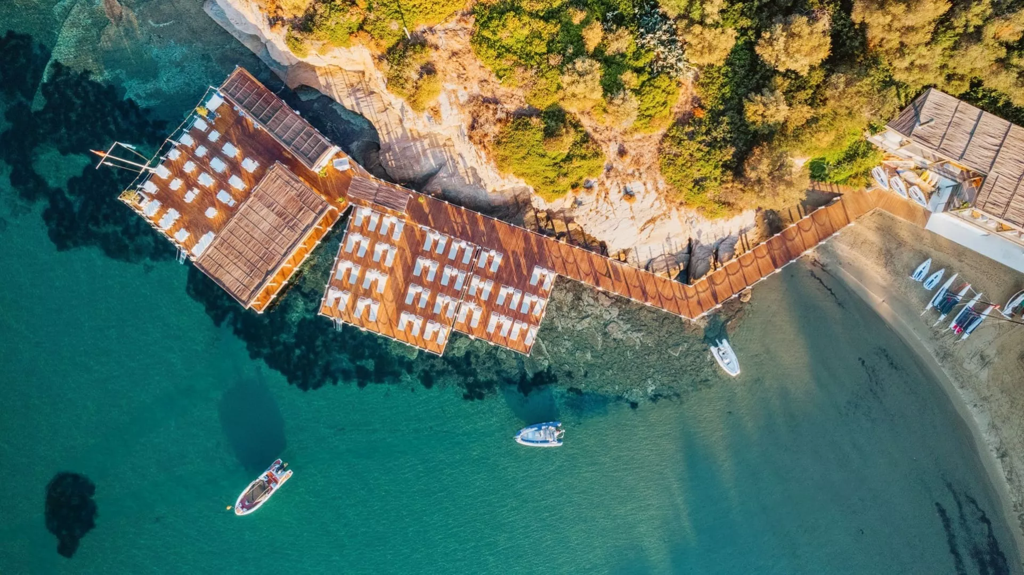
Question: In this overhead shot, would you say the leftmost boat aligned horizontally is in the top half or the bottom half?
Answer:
bottom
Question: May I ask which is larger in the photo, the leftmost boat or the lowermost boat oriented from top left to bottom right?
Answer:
the leftmost boat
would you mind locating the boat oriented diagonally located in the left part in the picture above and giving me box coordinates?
[237,458,293,514]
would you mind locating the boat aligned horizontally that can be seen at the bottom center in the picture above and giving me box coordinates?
[514,420,563,445]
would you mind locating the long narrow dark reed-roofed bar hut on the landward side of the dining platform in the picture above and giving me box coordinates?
[213,62,343,173]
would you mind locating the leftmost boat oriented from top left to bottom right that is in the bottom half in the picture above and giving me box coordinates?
[710,338,738,375]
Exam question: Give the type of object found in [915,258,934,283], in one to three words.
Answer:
boat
